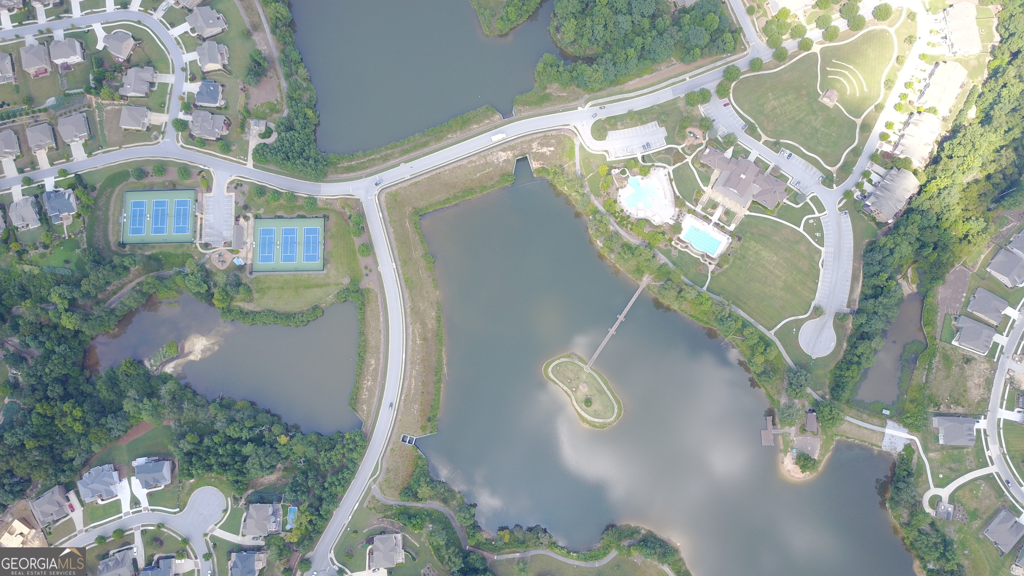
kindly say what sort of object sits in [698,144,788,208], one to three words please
building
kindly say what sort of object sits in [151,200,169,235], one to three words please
tennis court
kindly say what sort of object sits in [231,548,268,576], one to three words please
house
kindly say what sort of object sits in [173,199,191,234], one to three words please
tennis court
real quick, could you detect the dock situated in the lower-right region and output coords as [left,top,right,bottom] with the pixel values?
[760,416,795,445]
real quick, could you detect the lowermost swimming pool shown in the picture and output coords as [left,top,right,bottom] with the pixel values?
[285,505,299,530]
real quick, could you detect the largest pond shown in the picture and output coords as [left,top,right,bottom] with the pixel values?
[83,289,364,436]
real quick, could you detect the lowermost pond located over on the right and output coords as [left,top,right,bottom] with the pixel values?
[852,292,929,406]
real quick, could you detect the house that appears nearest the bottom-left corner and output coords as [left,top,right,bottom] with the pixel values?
[0,519,31,555]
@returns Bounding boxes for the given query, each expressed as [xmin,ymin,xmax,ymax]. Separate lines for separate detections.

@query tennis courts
[257,228,276,263]
[151,200,169,235]
[129,200,147,235]
[303,227,321,262]
[173,199,191,234]
[280,228,298,263]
